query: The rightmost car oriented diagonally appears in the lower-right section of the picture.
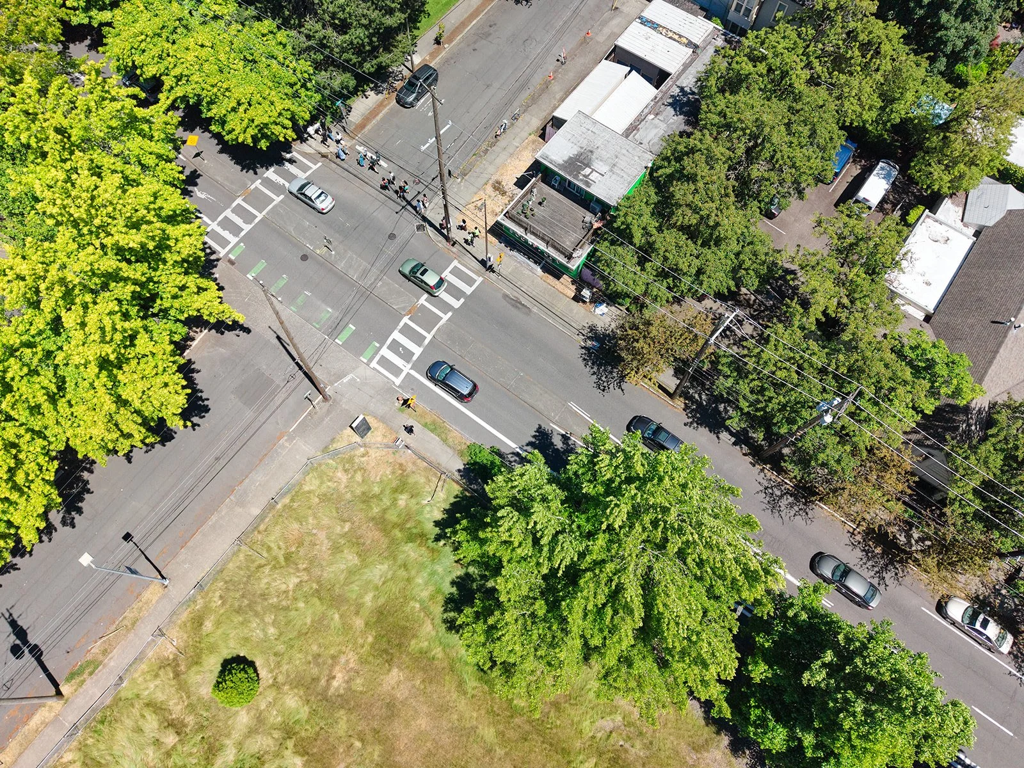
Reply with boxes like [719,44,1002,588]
[939,597,1018,658]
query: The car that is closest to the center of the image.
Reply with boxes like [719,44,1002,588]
[423,358,481,407]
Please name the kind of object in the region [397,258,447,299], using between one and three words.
car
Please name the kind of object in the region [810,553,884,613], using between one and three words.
car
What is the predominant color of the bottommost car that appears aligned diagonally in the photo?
white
